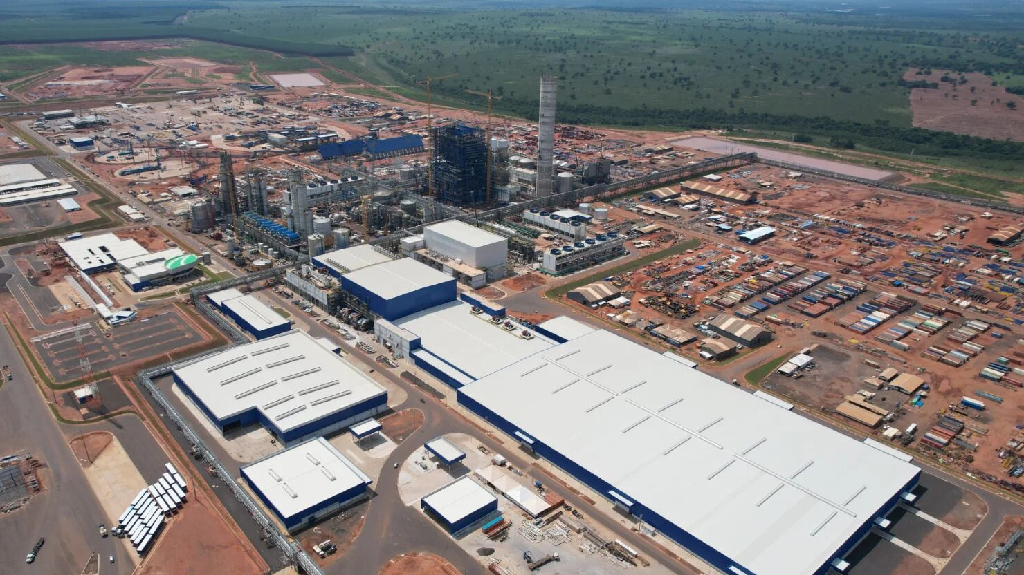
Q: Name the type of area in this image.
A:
industrial area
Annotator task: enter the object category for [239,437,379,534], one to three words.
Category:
building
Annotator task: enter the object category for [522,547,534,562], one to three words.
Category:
vehicle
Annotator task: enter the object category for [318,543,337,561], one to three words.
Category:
vehicle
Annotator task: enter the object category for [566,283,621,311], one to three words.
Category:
shed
